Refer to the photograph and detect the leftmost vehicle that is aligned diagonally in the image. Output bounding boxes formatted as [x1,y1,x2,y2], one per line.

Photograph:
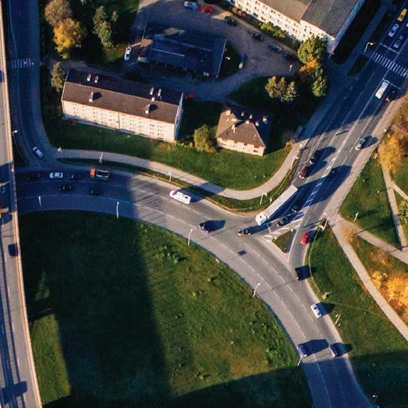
[31,144,44,160]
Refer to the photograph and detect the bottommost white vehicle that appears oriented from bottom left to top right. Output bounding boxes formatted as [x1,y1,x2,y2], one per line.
[258,178,300,224]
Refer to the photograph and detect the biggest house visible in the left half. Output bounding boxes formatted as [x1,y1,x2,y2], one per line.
[59,67,183,141]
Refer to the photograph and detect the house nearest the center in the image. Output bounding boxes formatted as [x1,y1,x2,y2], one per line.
[214,107,276,156]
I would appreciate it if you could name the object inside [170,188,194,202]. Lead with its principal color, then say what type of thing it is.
white vehicle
